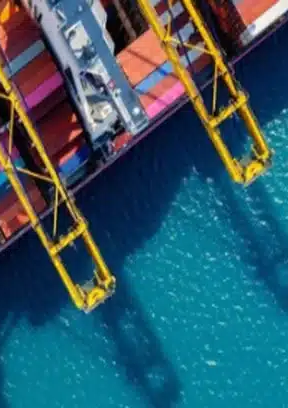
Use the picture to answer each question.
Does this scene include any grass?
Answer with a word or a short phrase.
No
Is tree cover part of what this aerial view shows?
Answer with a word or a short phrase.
No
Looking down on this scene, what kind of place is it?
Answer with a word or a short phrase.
port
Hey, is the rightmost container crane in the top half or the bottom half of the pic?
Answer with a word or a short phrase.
top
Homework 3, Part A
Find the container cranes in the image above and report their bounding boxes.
[145,0,284,192]
[0,33,124,317]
